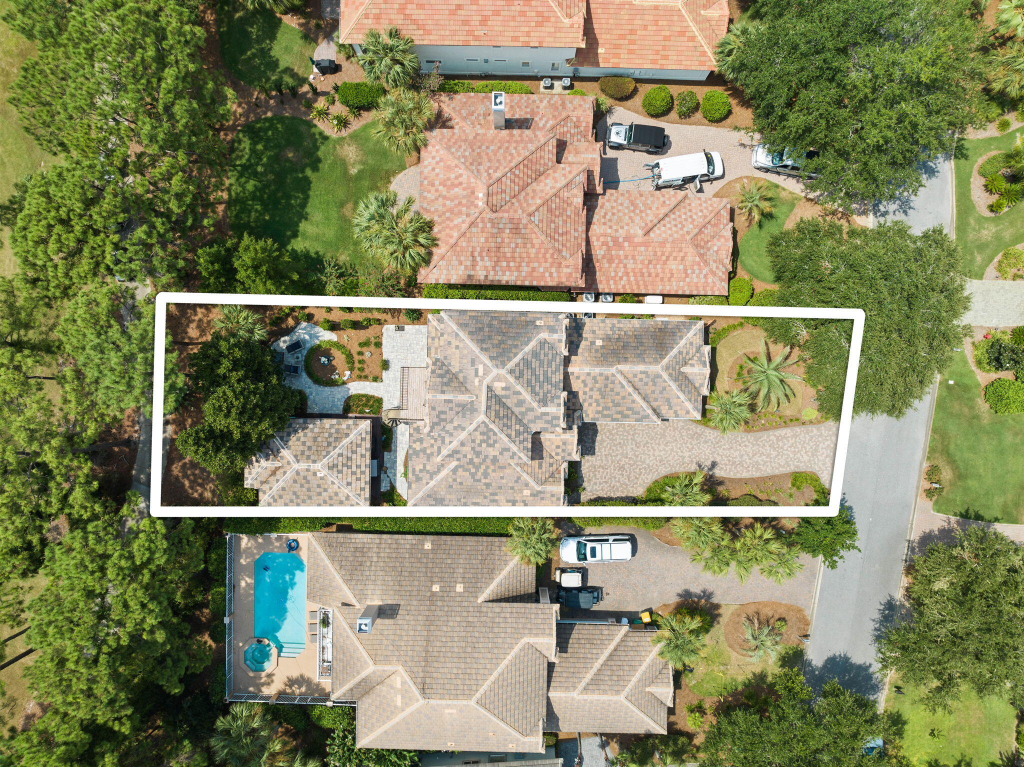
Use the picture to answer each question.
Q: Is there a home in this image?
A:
Yes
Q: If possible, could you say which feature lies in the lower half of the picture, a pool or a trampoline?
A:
pool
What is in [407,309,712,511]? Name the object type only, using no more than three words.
house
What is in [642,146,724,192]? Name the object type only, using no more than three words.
van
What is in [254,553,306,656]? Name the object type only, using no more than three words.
swimming pool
